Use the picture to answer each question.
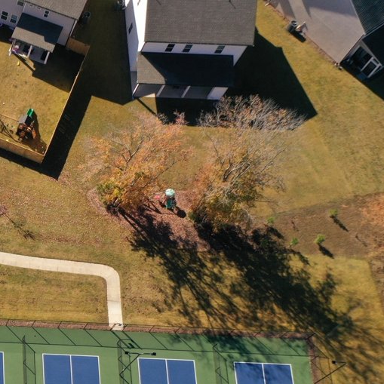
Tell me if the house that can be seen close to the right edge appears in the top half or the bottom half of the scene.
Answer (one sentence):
It is in the top half that the house that can be seen close to the right edge appears.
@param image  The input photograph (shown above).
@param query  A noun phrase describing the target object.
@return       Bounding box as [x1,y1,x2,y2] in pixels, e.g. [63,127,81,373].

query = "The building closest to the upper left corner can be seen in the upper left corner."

[0,0,87,66]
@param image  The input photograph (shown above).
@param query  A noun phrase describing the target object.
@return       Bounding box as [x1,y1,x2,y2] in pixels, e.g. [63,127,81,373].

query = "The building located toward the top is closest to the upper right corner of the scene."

[264,0,384,87]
